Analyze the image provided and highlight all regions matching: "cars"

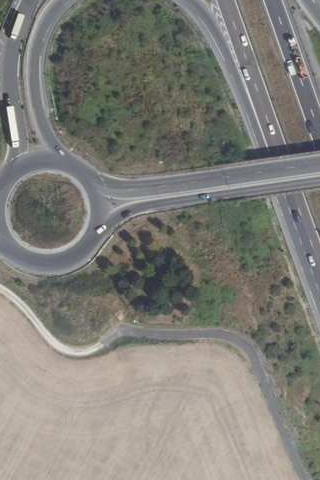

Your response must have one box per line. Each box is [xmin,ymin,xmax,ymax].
[267,122,274,134]
[239,32,246,44]
[56,144,65,154]
[4,93,8,104]
[242,66,250,80]
[120,210,132,218]
[96,224,106,233]
[199,194,210,199]
[306,121,314,132]
[292,210,300,221]
[307,254,315,266]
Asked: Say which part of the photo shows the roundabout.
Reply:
left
